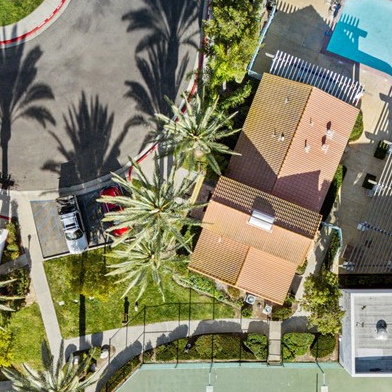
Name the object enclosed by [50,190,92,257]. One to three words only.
truck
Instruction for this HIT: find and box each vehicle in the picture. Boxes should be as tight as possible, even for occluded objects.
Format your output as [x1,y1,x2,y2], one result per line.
[99,184,136,240]
[50,190,92,257]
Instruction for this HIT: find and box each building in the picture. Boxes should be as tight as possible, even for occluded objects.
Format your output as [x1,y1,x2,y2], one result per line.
[188,73,359,301]
[339,288,392,376]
